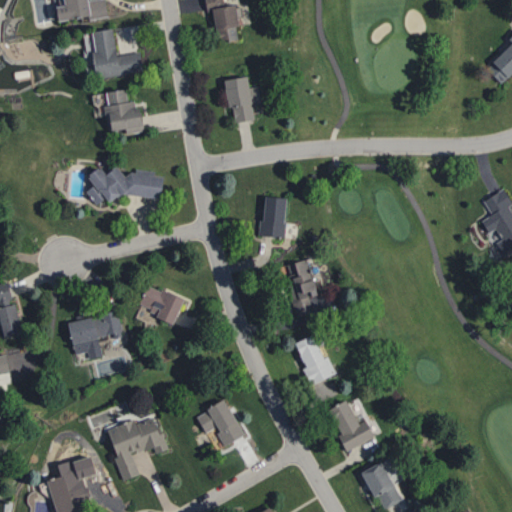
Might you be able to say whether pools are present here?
Yes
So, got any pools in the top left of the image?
Yes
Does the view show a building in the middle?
Yes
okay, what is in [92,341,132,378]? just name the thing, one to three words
swimming pool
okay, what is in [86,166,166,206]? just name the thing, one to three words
house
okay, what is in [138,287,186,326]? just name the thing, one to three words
house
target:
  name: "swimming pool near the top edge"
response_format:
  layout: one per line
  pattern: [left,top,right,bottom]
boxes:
[32,0,54,29]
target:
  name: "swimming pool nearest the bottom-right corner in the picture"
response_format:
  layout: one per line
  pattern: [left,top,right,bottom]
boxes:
[308,262,324,286]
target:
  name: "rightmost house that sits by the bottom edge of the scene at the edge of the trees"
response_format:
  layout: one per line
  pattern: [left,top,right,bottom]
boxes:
[363,460,400,510]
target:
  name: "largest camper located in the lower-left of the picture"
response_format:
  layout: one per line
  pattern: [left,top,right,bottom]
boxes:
[106,479,118,498]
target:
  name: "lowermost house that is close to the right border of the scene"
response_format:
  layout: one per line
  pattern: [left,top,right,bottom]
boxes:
[482,188,512,233]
